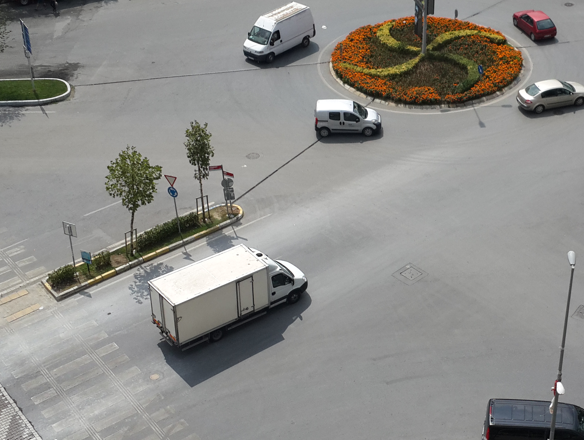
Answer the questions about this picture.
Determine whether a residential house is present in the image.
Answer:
No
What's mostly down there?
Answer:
paved ground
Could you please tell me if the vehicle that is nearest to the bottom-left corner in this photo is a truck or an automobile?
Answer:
truck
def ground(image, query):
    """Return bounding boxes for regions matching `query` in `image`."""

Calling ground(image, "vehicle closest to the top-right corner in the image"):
[511,8,559,41]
